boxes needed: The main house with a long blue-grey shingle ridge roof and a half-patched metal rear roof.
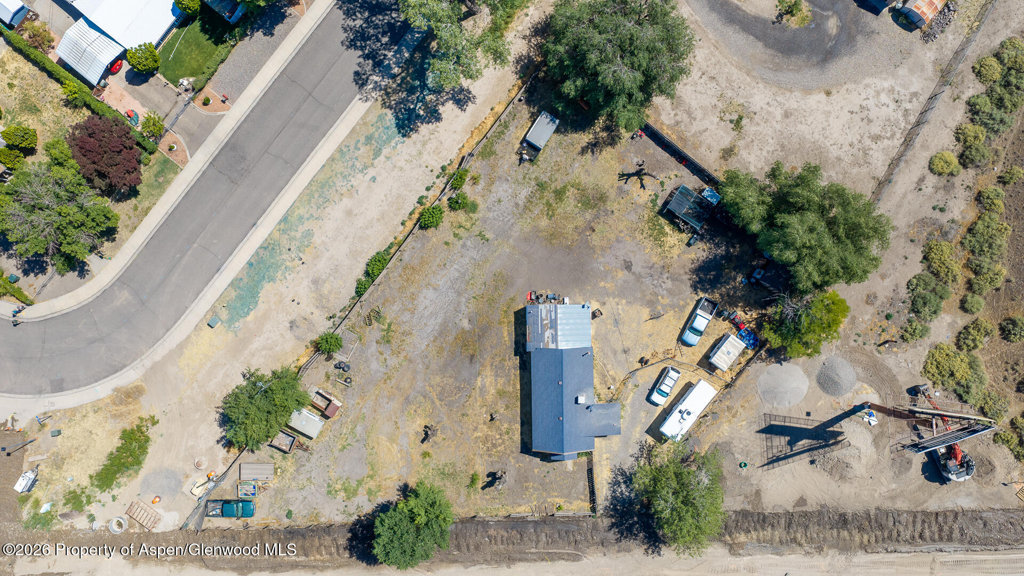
[526,303,620,460]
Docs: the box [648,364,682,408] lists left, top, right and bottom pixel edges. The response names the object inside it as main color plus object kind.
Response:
white car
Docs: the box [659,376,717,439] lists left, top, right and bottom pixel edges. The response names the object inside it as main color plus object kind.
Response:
white vehicle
